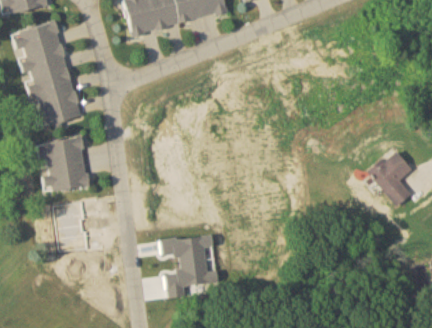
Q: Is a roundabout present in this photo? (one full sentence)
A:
No, I can see no roundabout in this picture.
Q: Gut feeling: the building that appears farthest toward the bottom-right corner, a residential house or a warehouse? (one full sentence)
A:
The building that appears farthest toward the bottom-right corner appears to be a residential house.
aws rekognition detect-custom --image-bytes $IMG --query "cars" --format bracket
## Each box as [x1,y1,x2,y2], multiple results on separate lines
[412,192,424,204]
[137,257,143,268]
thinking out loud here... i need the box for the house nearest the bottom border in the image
[160,232,218,299]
